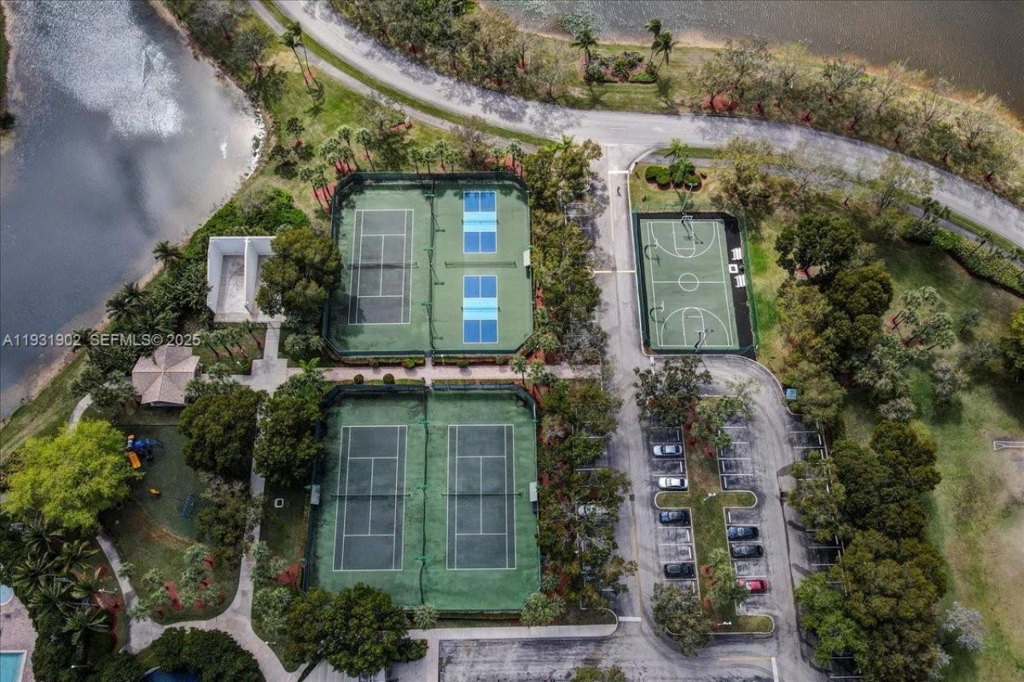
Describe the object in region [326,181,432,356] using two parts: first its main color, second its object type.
gray tennis court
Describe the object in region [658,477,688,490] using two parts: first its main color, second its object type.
white vehicle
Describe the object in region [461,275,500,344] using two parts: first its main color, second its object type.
blue sports court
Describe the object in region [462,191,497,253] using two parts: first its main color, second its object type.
blue sports court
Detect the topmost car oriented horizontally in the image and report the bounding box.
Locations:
[653,444,682,457]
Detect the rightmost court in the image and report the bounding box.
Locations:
[637,212,757,362]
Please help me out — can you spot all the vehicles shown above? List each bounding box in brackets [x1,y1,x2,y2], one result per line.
[663,563,695,577]
[732,544,764,558]
[658,477,688,490]
[578,503,607,517]
[728,525,758,539]
[738,579,769,593]
[653,444,682,457]
[660,510,690,524]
